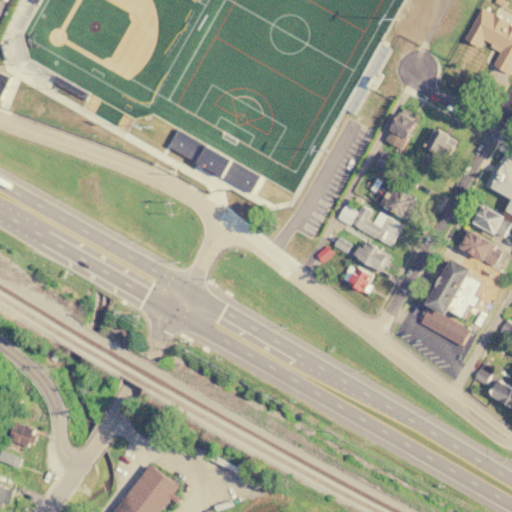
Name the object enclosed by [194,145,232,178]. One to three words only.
building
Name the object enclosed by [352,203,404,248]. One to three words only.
building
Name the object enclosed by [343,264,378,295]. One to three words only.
house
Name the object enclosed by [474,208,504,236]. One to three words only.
house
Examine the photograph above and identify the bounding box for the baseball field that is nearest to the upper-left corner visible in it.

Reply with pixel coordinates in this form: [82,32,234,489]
[26,0,208,118]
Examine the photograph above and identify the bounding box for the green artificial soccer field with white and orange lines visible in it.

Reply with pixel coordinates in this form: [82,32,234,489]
[132,0,404,194]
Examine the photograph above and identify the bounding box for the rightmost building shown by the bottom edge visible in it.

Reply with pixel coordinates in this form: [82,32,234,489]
[112,462,180,512]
